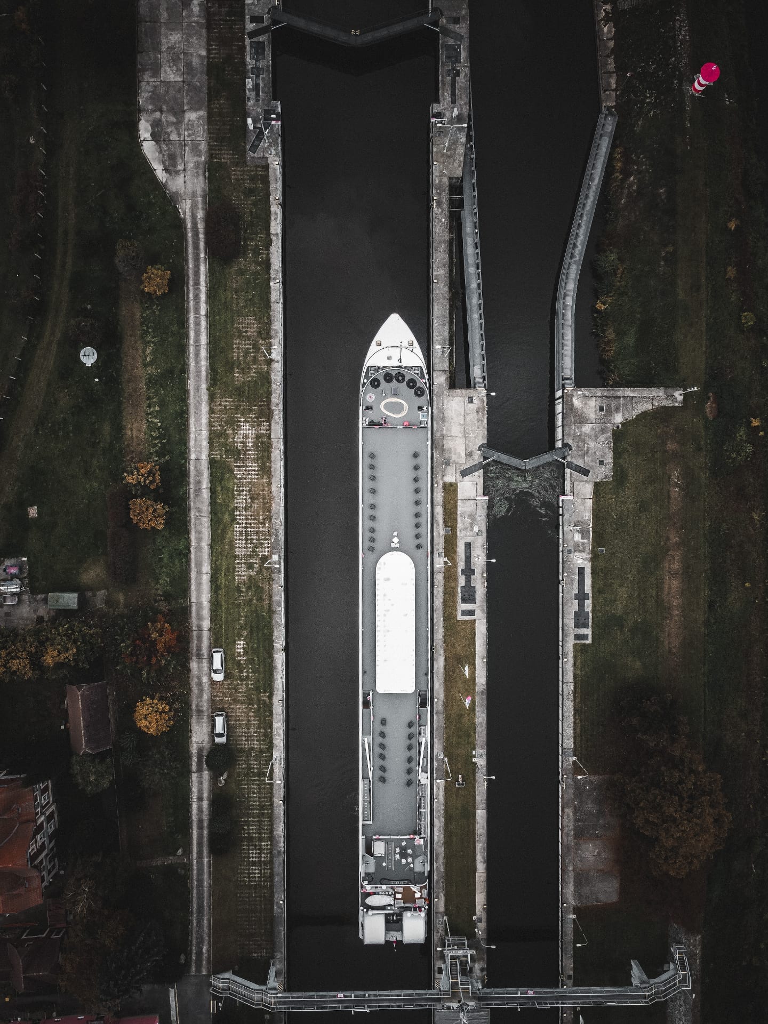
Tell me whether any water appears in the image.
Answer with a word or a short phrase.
Yes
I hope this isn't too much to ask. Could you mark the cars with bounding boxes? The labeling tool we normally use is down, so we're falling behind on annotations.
[209,650,224,681]
[212,714,226,744]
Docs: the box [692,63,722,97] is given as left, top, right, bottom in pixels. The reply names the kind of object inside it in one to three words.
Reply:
lighthouse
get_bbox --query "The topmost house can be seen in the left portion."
[66,678,118,754]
